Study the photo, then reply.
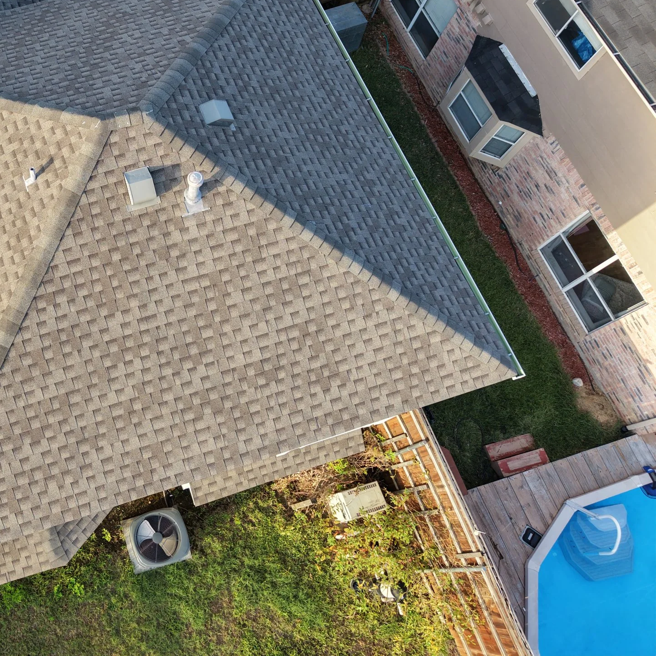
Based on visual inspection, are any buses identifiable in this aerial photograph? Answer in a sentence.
No, I can't see a single bus in this photo.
